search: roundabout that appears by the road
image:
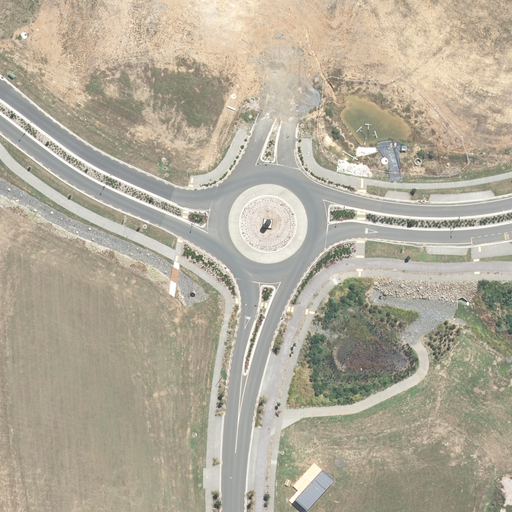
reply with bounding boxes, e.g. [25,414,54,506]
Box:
[194,150,340,302]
